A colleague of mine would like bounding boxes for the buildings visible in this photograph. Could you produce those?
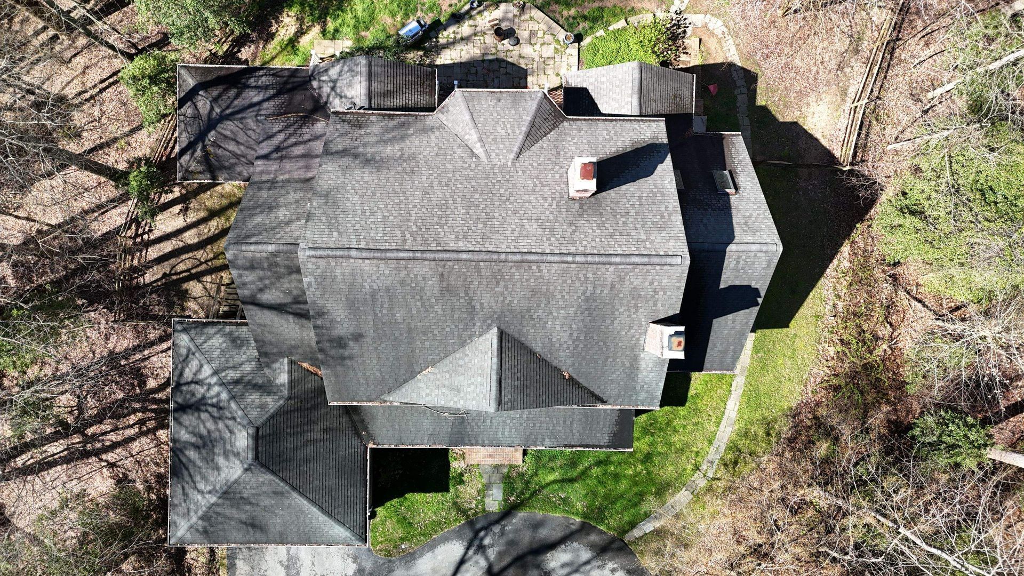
[170,56,782,549]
